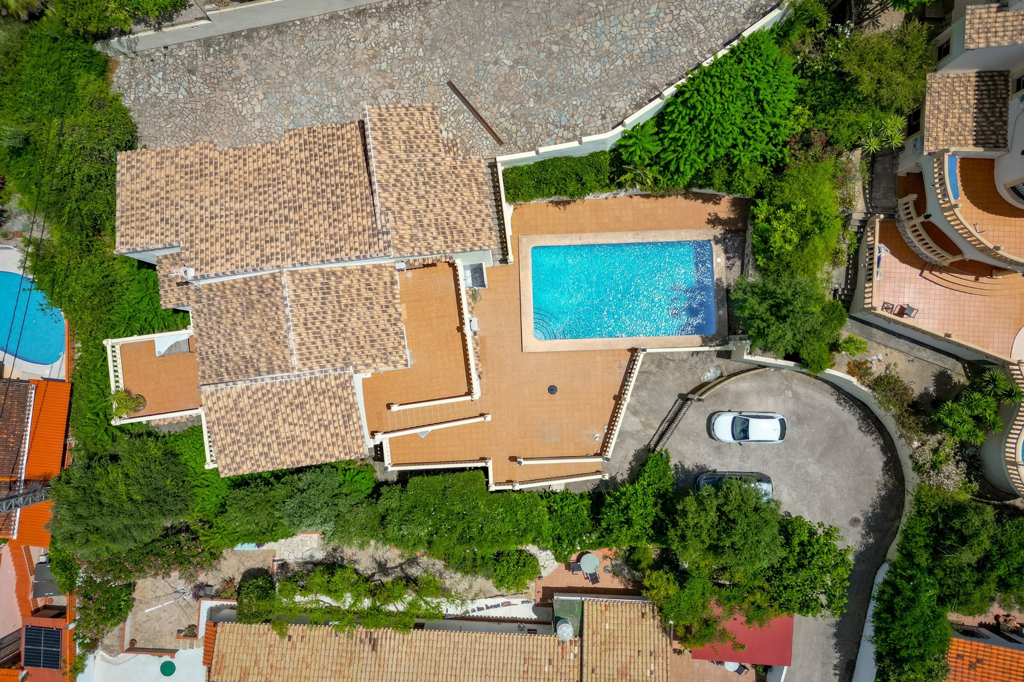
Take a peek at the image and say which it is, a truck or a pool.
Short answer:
pool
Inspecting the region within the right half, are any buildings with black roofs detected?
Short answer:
No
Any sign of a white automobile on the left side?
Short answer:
No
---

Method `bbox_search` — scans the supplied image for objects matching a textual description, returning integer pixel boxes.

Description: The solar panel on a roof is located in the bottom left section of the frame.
[23,621,62,669]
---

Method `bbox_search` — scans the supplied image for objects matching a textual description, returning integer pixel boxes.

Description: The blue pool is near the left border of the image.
[0,244,71,383]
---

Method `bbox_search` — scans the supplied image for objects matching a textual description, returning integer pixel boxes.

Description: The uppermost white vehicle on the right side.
[710,408,788,447]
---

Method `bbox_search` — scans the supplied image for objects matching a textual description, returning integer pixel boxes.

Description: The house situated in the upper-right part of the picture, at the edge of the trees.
[883,3,1024,271]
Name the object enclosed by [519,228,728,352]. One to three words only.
swimming pool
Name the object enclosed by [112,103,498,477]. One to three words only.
house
